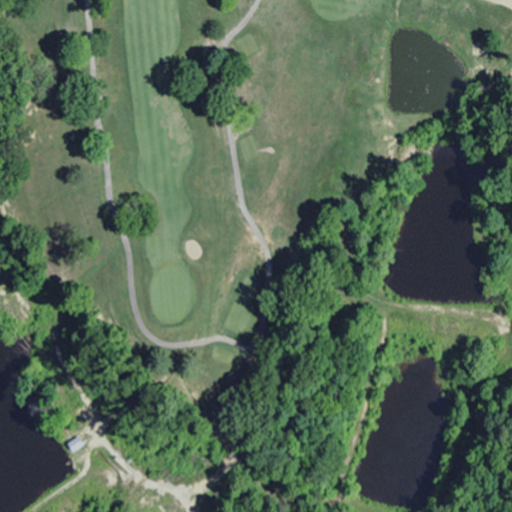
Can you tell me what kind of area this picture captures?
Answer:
golf course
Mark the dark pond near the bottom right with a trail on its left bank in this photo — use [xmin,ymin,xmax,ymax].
[356,356,449,510]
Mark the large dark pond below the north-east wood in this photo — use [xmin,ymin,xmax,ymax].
[385,138,490,304]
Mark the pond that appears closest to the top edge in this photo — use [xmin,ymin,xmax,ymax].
[388,28,466,114]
